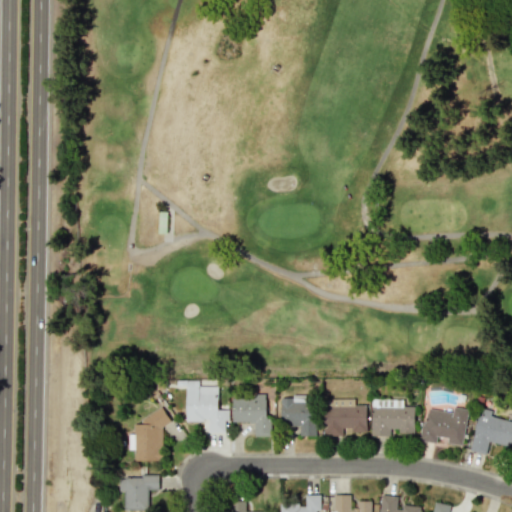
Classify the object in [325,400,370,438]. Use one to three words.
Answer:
house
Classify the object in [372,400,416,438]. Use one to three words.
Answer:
house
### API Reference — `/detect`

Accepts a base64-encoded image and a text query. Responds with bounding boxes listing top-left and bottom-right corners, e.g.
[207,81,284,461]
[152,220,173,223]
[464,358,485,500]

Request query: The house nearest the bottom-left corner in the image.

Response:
[120,476,160,512]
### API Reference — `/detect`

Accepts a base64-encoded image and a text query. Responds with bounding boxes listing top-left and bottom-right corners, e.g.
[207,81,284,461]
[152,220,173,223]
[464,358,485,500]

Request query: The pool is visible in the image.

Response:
[429,390,468,406]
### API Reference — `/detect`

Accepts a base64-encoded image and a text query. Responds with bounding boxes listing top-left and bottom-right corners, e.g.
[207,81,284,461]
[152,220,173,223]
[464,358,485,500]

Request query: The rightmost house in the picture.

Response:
[473,414,512,454]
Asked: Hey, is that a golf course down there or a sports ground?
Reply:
golf course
